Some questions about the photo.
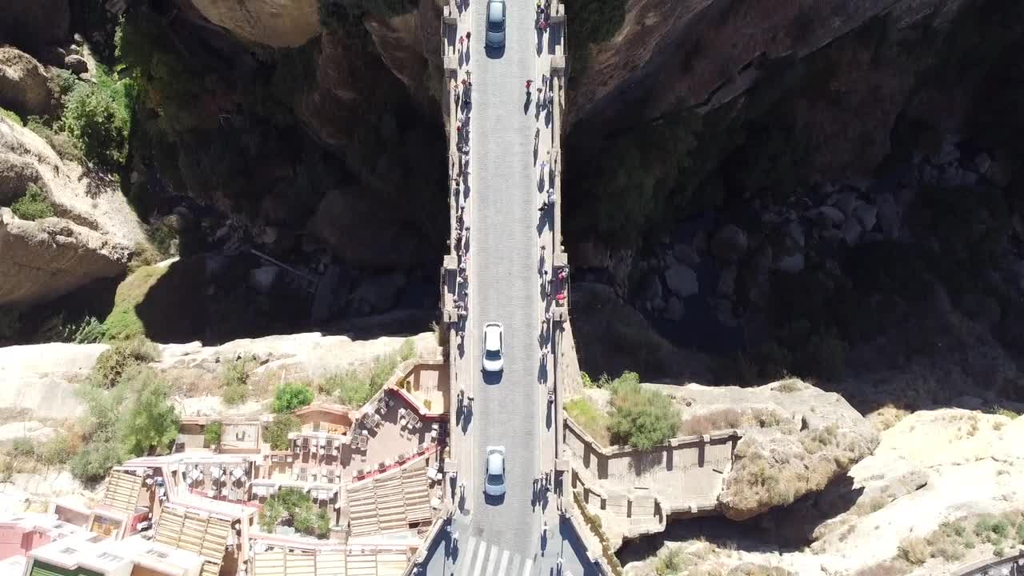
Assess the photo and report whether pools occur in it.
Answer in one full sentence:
No, the frame has no pool in it.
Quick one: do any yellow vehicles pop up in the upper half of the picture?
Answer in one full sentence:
No, there's no yellow vehicle to be seen in the upper half of the picture.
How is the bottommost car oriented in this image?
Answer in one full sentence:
The bottommost car has been laid out up and down relative to the frame.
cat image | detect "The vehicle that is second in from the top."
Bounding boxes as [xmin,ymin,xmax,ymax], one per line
[480,323,506,371]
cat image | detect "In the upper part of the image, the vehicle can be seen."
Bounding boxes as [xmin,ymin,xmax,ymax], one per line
[483,0,508,48]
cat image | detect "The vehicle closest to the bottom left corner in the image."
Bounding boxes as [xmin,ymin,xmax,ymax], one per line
[482,446,507,495]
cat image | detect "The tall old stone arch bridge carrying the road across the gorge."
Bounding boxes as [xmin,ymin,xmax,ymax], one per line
[439,0,585,524]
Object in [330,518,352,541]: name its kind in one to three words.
shed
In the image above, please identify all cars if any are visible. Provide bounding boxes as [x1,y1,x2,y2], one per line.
[482,446,507,495]
[480,323,506,371]
[483,0,508,48]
